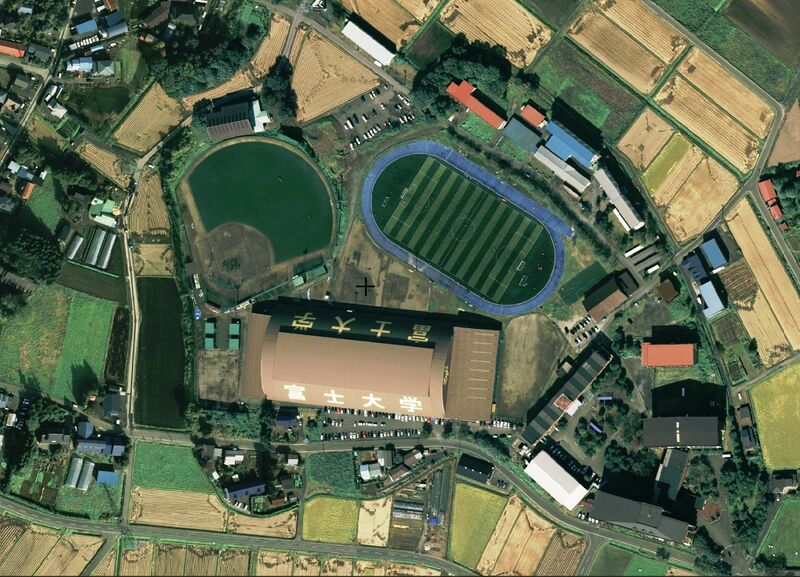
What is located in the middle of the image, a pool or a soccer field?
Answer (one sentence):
Looking in the middle of the image, you will find a soccer field.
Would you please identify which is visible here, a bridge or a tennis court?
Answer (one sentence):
Visible in the photo is a tennis court.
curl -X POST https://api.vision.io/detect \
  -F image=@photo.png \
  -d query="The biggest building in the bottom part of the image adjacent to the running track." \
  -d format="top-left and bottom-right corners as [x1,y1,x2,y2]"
[241,310,502,421]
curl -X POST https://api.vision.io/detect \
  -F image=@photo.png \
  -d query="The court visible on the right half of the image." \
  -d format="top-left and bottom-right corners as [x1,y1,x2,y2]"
[558,261,608,306]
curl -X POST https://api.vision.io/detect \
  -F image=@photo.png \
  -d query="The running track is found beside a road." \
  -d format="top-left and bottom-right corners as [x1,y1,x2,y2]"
[360,141,574,316]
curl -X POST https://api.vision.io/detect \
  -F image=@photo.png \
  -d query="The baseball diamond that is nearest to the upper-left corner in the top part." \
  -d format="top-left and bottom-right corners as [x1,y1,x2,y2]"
[177,137,338,305]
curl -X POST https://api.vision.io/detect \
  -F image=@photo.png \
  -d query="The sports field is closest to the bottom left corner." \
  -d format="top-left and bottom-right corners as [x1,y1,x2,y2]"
[200,350,238,400]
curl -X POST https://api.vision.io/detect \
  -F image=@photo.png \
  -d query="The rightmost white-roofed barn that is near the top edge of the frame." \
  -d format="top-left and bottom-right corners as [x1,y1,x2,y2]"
[341,21,398,66]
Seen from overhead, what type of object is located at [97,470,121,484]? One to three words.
shed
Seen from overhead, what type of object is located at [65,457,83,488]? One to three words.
greenhouse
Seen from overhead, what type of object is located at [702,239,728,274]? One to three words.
building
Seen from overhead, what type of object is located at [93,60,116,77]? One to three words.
house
